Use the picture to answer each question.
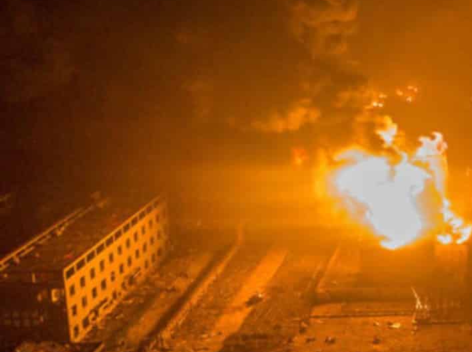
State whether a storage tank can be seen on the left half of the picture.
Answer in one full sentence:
No, there's no storage tank to be seen on the left half of the picture.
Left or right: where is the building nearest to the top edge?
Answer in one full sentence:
The building nearest to the top edge is on the left side of the image.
